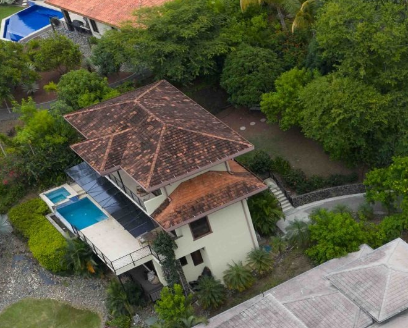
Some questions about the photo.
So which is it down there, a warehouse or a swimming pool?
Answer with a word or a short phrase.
swimming pool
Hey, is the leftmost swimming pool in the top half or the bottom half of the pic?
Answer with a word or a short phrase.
top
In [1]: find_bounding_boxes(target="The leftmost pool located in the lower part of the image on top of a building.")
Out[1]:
[43,188,80,213]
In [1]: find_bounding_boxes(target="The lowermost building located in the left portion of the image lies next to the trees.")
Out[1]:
[37,78,269,280]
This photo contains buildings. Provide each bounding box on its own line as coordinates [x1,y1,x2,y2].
[189,236,408,328]
[37,78,269,280]
[0,0,190,52]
